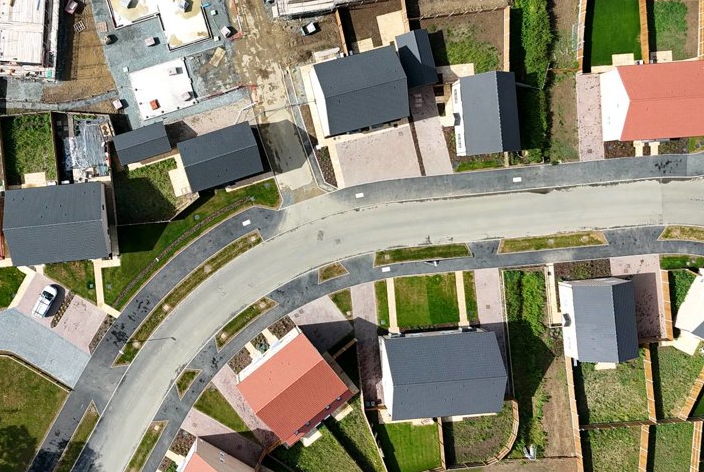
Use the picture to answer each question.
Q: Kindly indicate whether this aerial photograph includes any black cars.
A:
No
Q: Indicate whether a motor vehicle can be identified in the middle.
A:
No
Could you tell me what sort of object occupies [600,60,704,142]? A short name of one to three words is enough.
house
